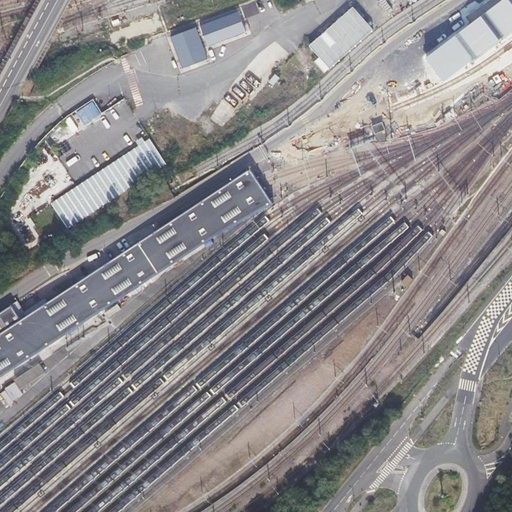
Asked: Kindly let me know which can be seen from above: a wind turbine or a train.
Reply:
train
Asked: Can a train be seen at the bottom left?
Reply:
Yes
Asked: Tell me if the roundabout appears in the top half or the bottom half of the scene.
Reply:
bottom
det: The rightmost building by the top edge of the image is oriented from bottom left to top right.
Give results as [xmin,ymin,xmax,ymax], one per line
[426,0,512,80]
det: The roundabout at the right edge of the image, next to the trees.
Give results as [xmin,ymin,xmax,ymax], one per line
[332,385,496,512]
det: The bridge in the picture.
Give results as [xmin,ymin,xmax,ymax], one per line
[0,0,70,128]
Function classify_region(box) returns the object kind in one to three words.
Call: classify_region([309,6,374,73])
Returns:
building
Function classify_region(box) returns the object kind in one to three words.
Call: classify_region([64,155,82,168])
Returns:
vehicle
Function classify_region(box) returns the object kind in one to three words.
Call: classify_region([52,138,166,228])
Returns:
shed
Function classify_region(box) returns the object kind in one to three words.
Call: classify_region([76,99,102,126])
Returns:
building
